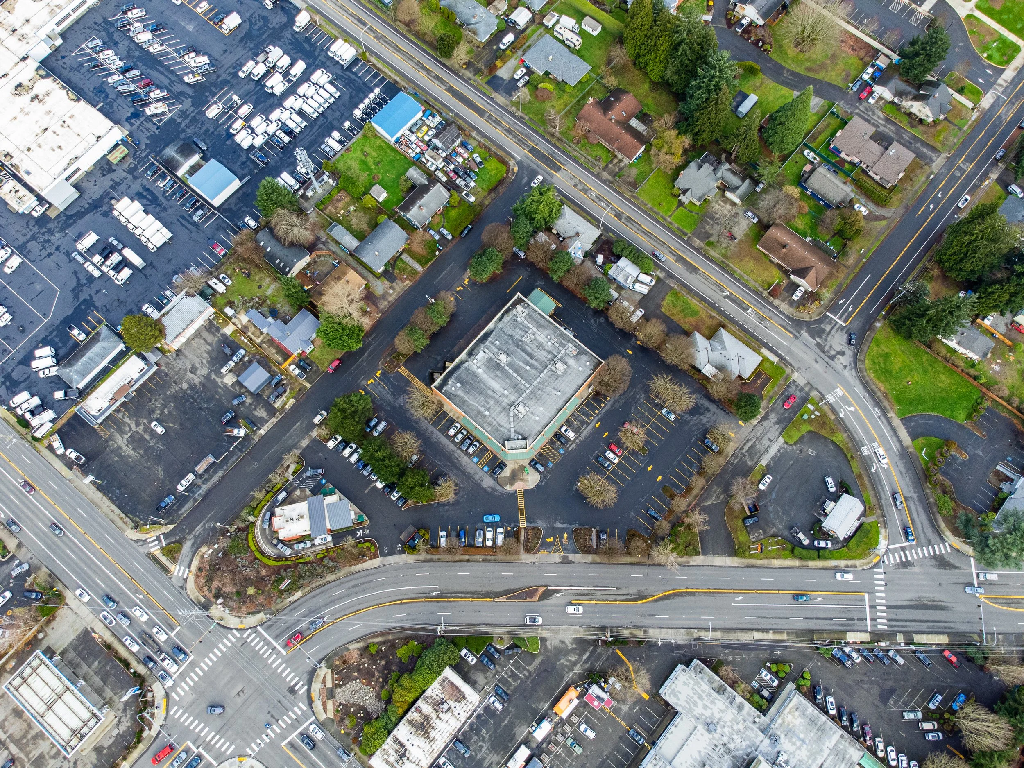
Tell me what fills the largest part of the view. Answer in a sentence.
The bulk of the photo consists of paved ground.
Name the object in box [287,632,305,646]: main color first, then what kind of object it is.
red car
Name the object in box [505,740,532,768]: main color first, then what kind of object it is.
white truck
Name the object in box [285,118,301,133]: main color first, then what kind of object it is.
white vehicle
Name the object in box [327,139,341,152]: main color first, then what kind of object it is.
white vehicle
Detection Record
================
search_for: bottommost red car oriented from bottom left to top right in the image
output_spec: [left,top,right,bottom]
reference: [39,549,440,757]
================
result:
[155,744,172,764]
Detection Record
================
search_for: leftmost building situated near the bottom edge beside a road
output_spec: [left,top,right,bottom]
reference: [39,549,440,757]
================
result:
[369,666,483,768]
